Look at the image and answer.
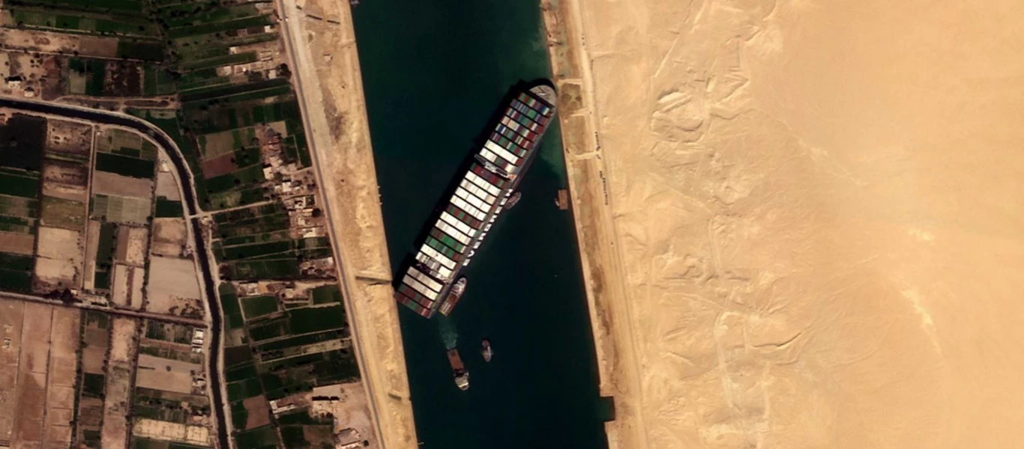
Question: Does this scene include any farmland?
Yes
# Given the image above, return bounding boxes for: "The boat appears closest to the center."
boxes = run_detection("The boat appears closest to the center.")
[505,192,521,210]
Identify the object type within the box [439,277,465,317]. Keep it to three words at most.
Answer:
ship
